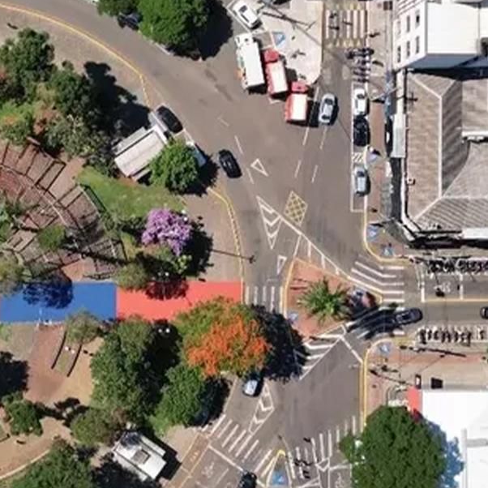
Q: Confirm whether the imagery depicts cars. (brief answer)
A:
Yes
